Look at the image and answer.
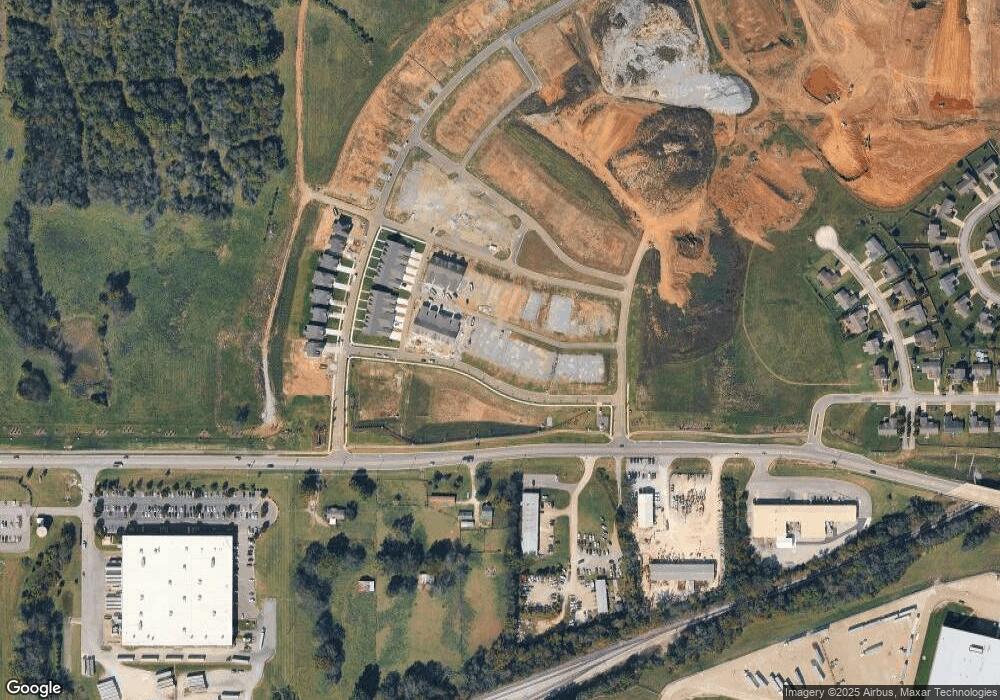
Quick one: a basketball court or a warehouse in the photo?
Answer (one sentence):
Of the two, only a warehouse appears.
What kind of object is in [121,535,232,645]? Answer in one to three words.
warehouse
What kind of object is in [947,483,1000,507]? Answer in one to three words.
overpass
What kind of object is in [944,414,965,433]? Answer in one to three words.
house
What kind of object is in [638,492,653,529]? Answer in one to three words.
building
